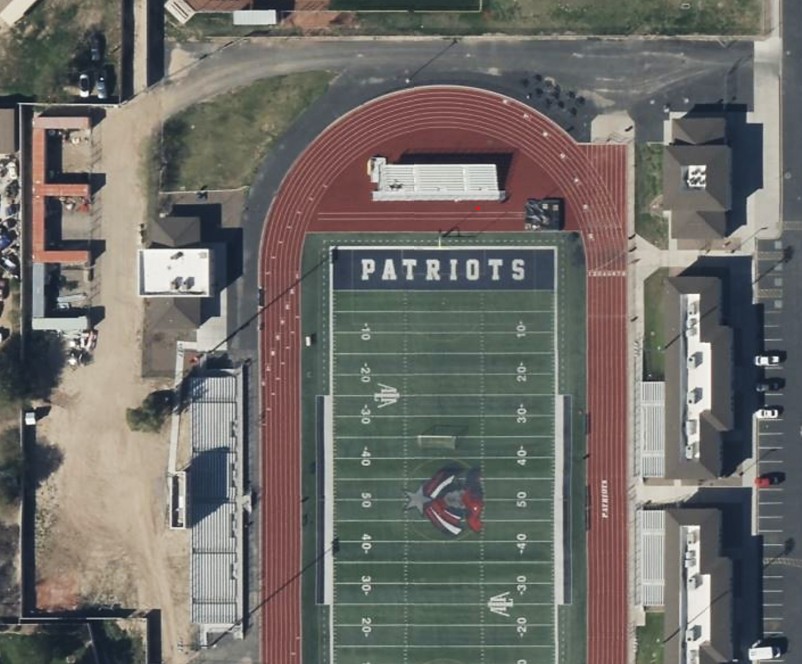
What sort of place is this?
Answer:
sports ground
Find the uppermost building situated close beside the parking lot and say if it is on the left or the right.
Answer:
right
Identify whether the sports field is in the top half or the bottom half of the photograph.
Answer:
bottom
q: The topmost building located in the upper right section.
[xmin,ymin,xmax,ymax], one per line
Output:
[663,117,733,239]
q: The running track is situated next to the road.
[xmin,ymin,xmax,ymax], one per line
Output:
[258,86,628,664]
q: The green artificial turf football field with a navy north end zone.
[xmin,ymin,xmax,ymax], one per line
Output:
[301,233,585,664]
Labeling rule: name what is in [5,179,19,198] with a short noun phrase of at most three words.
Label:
vehicle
